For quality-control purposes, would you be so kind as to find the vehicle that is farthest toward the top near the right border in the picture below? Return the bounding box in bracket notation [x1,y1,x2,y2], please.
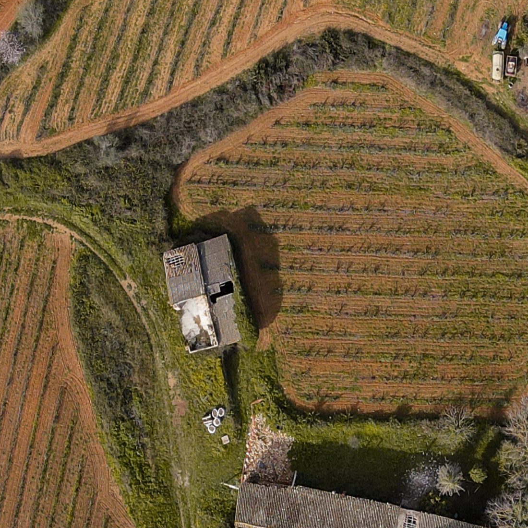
[491,17,510,44]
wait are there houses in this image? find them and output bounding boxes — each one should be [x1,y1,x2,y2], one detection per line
[162,234,246,355]
[221,470,480,528]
